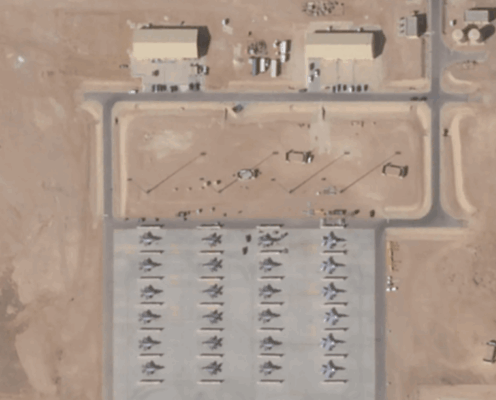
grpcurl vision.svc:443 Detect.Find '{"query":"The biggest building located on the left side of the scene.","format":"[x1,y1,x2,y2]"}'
[131,28,200,61]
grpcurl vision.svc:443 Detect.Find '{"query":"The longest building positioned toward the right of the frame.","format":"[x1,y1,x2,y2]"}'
[304,32,374,60]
